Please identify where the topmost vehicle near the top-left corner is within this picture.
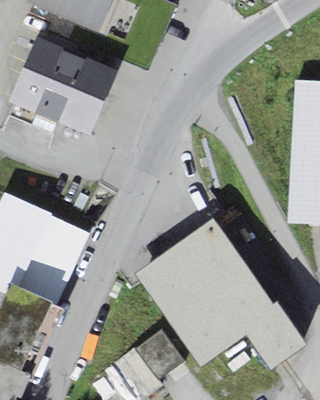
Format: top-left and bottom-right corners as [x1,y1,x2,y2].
[22,16,47,30]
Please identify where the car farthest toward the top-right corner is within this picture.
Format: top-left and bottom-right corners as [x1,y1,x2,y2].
[168,25,188,40]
